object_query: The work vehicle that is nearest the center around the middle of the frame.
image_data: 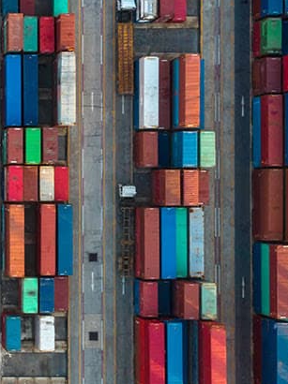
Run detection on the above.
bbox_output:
[117,181,135,214]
